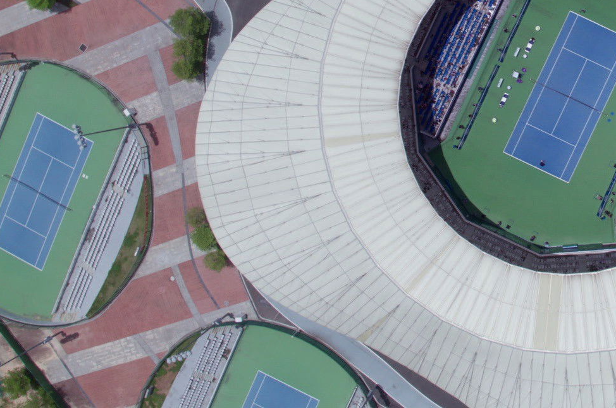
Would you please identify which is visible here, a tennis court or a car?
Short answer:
tennis court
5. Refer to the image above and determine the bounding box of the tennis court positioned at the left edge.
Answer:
[0,62,133,318]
